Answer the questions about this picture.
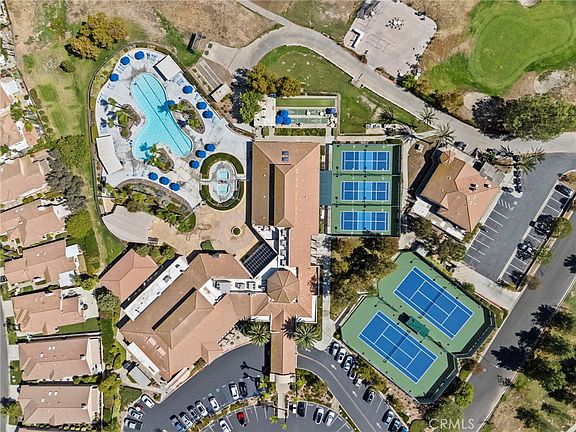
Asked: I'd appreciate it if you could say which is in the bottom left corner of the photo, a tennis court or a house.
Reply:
house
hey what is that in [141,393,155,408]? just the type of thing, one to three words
car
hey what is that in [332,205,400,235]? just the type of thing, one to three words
sports court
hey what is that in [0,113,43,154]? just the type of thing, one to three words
house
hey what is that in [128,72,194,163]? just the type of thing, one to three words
swimming pool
